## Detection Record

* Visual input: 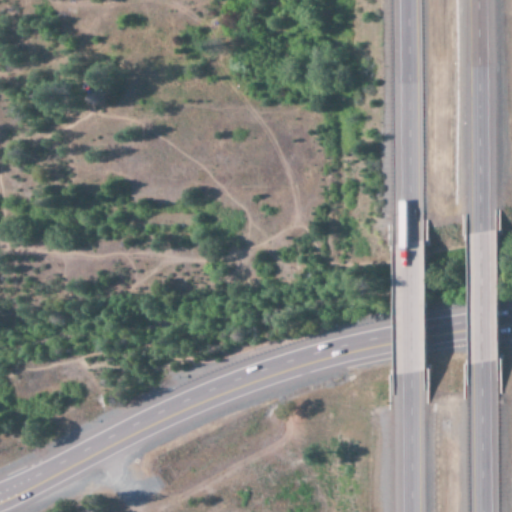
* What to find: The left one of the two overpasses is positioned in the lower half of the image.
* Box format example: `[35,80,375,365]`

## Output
[389,219,433,410]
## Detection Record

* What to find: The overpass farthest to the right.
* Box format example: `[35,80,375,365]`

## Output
[463,208,505,400]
